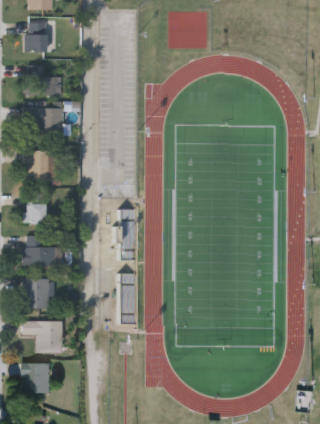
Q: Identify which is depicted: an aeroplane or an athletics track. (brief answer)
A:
athletics track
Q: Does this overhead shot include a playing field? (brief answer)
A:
Yes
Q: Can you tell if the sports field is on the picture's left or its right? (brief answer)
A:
right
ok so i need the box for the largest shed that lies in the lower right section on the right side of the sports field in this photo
[296,390,312,412]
